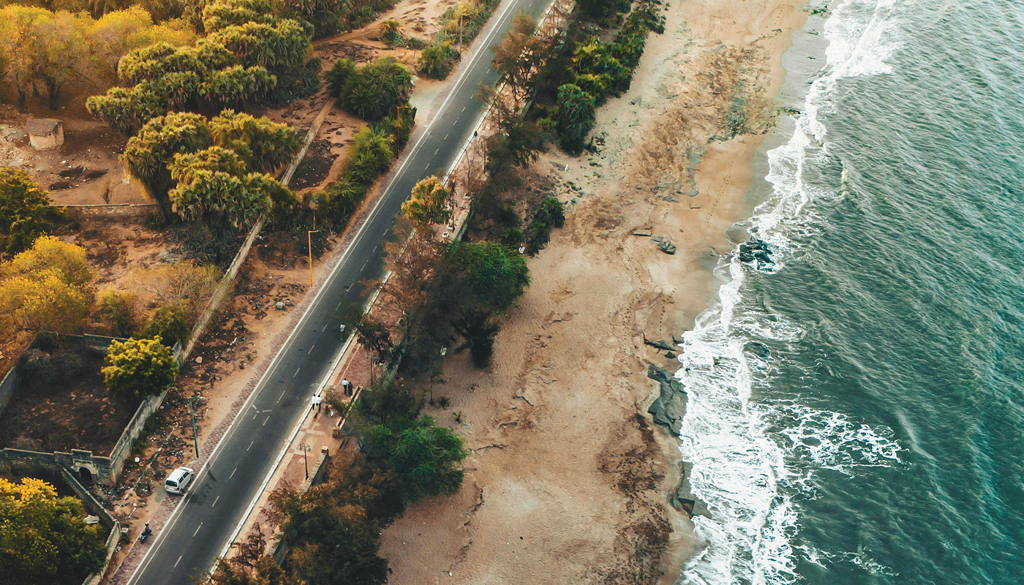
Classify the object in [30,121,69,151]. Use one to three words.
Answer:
shed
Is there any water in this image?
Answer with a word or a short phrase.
Yes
